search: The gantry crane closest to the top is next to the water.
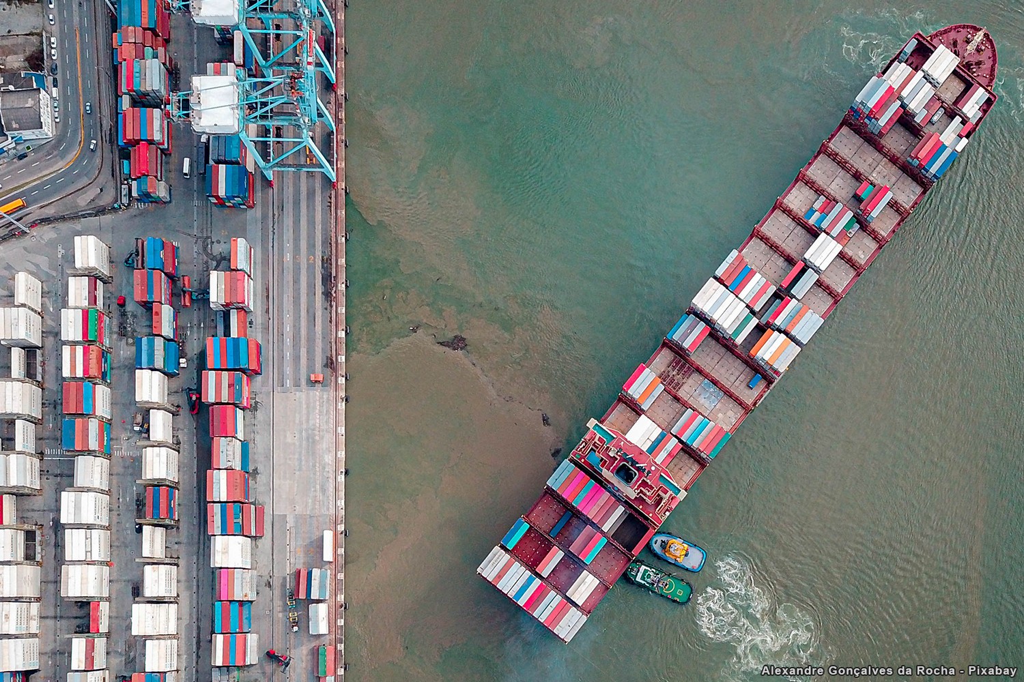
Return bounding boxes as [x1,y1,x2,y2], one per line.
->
[162,0,336,92]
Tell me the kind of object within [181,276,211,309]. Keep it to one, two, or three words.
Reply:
work vehicle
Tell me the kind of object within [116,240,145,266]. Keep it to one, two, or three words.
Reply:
work vehicle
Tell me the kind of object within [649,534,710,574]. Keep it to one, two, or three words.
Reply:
boat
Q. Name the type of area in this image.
port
